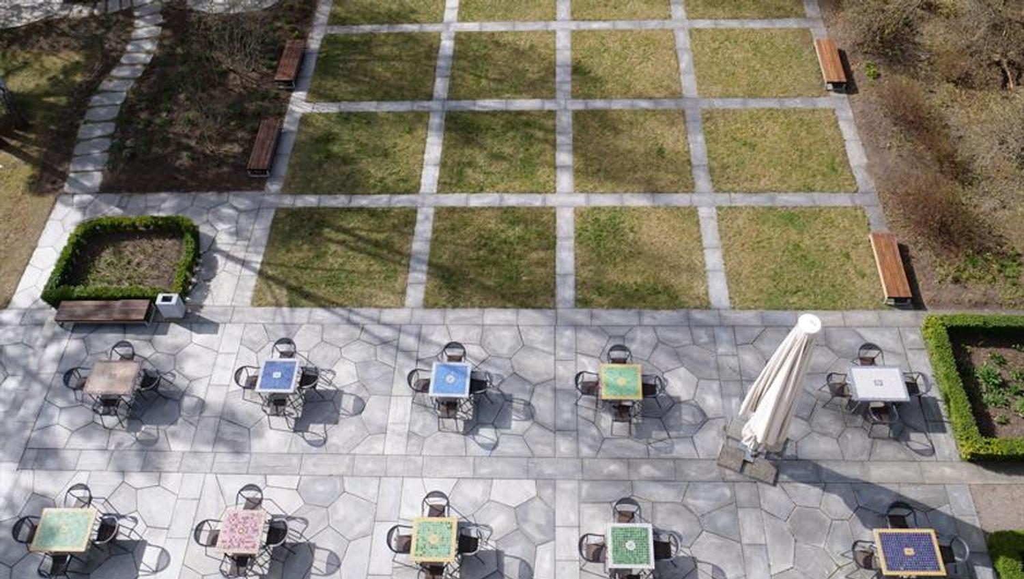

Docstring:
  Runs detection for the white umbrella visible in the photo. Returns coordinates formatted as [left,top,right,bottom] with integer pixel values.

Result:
[716,315,823,493]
